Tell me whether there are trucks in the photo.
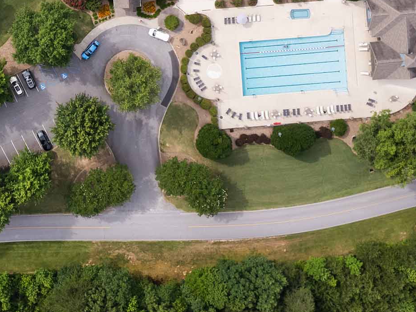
No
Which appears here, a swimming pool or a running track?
swimming pool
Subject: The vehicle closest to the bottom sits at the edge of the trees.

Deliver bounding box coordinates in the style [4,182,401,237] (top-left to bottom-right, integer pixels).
[38,131,53,152]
